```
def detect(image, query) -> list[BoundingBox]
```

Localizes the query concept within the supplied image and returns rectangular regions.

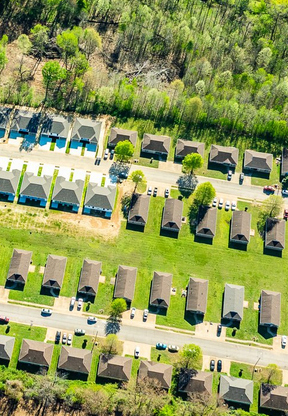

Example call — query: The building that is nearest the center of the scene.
[123,196,149,229]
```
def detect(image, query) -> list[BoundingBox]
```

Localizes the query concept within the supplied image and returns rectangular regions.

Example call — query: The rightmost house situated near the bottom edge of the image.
[256,384,288,414]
